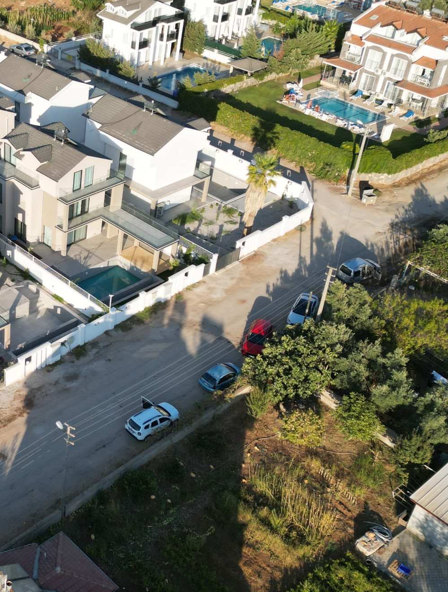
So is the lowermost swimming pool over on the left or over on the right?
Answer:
left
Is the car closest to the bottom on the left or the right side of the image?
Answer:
left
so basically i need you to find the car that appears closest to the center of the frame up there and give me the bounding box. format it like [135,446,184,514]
[244,318,273,355]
